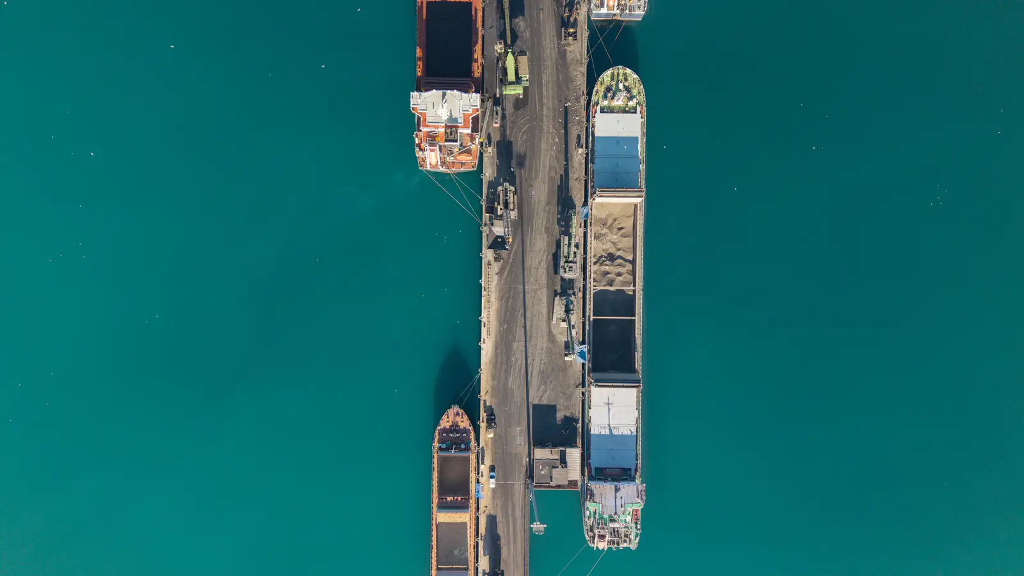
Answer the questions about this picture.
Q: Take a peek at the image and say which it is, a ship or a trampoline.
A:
ship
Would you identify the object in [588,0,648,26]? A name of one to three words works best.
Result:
ship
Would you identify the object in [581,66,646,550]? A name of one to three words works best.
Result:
ship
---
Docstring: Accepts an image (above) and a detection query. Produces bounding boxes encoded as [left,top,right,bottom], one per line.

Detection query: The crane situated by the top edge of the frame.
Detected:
[495,0,529,98]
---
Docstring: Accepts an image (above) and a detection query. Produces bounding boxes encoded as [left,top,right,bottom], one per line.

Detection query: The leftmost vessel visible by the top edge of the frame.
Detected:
[411,0,482,174]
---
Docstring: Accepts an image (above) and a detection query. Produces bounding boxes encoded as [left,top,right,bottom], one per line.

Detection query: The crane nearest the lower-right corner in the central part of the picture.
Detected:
[552,289,577,353]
